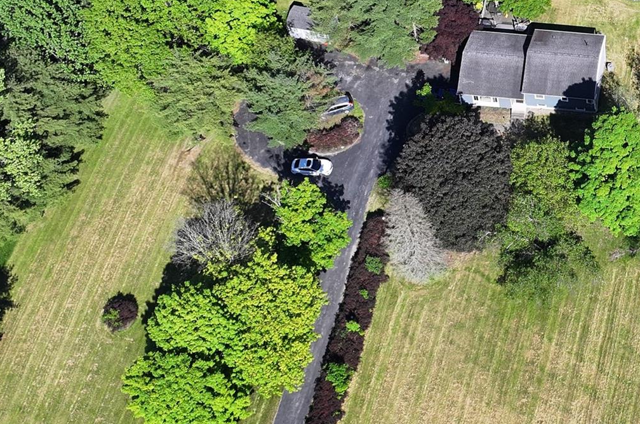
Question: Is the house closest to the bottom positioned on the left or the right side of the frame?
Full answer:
You can find the house closest to the bottom on the right side of the picture.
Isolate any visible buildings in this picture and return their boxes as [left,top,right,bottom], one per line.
[457,29,607,127]
[286,7,337,43]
